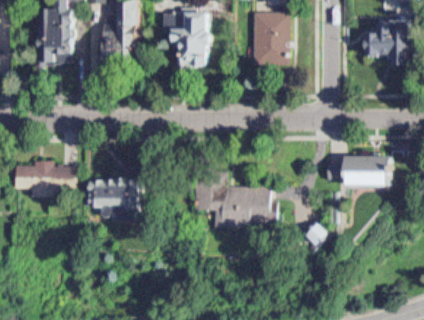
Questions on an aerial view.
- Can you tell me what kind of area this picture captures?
residential area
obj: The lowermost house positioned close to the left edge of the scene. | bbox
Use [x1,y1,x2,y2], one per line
[14,160,78,198]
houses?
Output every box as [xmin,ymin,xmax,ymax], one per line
[44,0,78,64]
[254,12,293,66]
[113,0,141,55]
[87,176,142,218]
[14,160,78,198]
[163,7,214,68]
[382,0,411,12]
[340,156,394,188]
[196,172,280,226]
[362,18,412,66]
